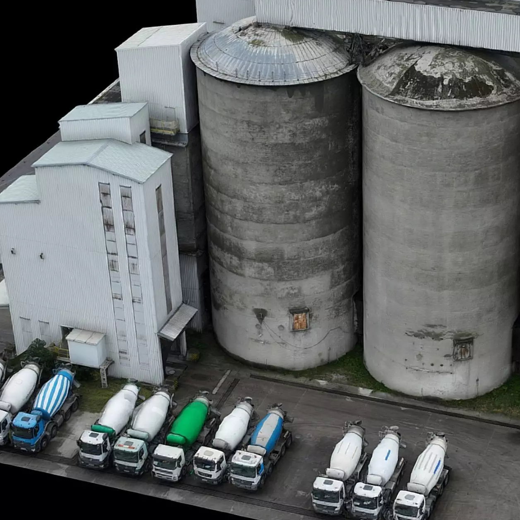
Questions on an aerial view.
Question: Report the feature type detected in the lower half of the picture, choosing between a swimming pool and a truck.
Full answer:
The one visible in the lower half of the picture is a truck.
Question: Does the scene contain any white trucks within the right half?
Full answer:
Yes, looking within the right half, one can make out a white truck.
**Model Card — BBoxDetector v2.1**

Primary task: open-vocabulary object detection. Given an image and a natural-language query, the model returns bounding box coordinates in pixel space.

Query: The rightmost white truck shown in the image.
[392,435,450,520]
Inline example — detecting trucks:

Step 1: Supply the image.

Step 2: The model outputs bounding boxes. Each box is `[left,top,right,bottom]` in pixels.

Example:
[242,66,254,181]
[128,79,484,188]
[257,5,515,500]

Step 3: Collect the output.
[113,387,178,478]
[231,398,292,491]
[392,435,450,520]
[350,426,406,520]
[76,380,145,471]
[0,361,46,449]
[310,421,369,517]
[11,366,82,454]
[193,394,259,487]
[152,391,216,483]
